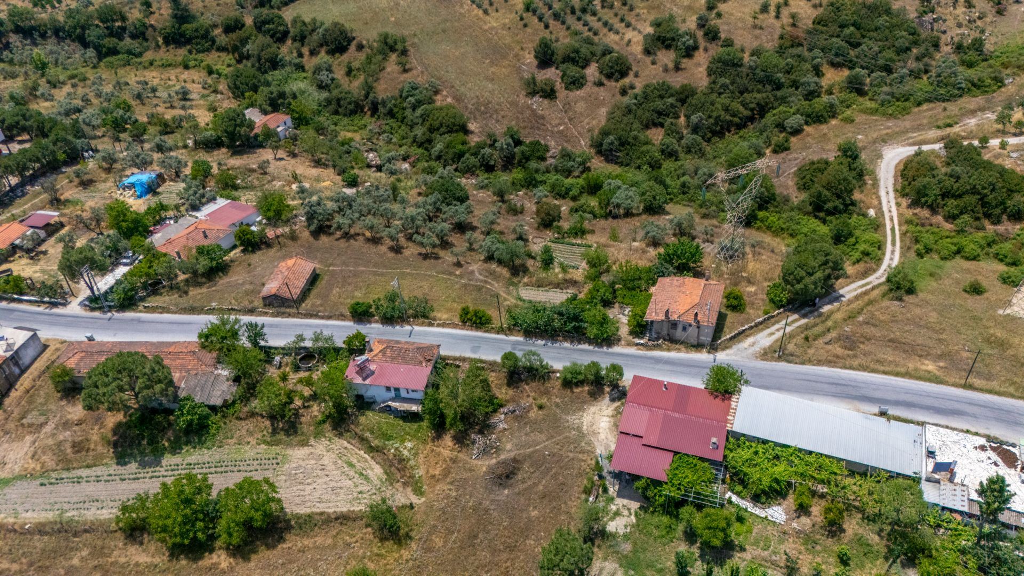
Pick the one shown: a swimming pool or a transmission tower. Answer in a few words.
transmission tower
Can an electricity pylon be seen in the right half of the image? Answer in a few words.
Yes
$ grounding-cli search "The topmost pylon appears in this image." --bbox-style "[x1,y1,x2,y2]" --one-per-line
[710,146,787,270]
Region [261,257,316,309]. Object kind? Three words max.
barn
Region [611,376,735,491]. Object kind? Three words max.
house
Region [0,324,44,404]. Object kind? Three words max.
house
